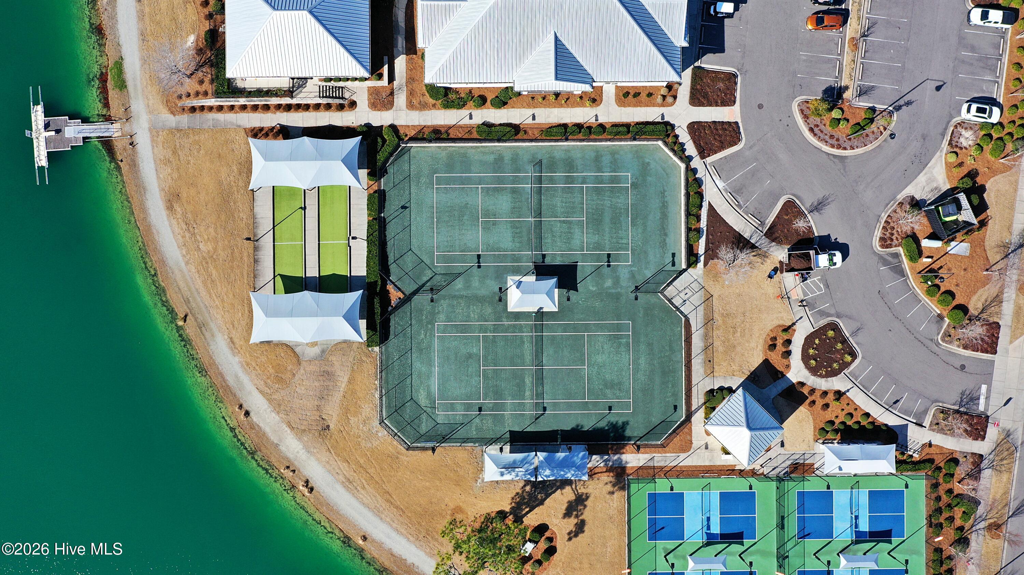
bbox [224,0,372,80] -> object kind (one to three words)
building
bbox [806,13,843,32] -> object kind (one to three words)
car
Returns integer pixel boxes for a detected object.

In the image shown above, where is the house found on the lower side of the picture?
[701,387,785,469]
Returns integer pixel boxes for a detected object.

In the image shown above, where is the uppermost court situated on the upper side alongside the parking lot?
[382,141,683,296]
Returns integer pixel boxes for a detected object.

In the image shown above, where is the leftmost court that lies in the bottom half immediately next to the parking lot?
[382,293,684,445]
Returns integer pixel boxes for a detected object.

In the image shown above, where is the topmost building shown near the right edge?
[916,192,978,239]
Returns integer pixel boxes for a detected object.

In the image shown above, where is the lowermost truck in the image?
[782,250,841,274]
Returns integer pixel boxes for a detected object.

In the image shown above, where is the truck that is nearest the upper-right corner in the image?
[965,7,1016,29]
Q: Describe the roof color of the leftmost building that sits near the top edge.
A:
white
